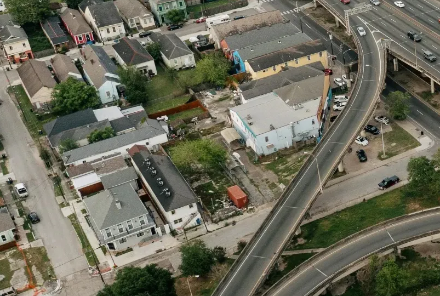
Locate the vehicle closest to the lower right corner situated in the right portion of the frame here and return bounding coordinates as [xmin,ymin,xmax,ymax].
[376,173,400,188]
